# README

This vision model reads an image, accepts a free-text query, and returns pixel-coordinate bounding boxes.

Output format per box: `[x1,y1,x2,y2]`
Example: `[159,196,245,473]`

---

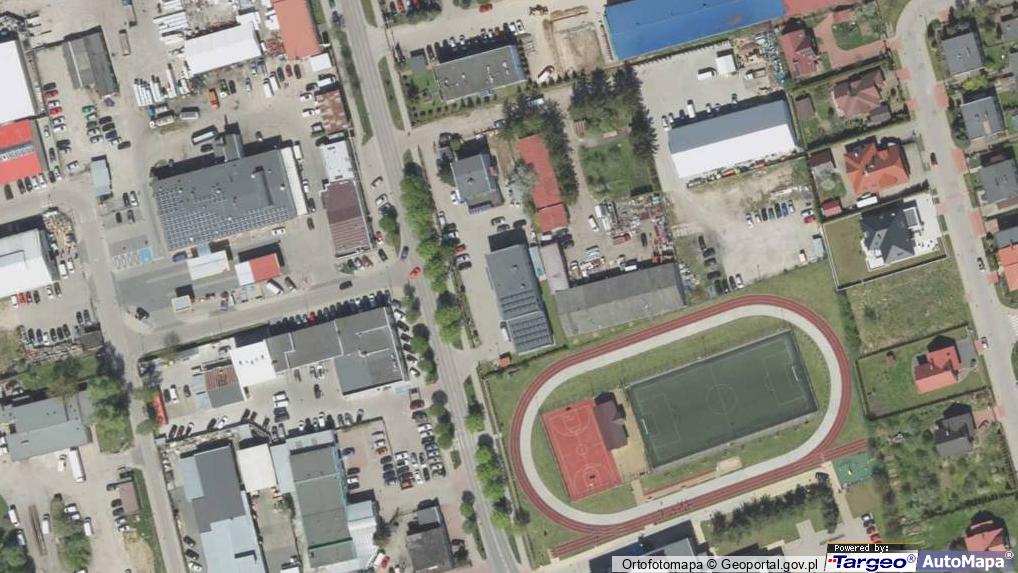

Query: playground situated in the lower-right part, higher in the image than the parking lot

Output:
[833,451,872,484]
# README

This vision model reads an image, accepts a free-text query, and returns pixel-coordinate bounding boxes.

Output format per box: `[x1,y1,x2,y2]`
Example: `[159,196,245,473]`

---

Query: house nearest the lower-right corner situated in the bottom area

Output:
[964,528,1009,560]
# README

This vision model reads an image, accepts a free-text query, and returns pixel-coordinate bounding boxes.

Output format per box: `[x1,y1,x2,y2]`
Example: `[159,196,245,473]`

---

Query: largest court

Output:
[542,400,623,501]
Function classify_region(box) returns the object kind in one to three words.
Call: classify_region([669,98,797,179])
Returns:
building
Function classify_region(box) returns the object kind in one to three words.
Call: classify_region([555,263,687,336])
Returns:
shed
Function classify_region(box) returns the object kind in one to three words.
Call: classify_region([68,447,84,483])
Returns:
vehicle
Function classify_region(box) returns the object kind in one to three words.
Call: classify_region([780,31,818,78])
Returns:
house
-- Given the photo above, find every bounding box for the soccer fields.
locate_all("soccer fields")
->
[630,331,817,469]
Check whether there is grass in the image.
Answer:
Yes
